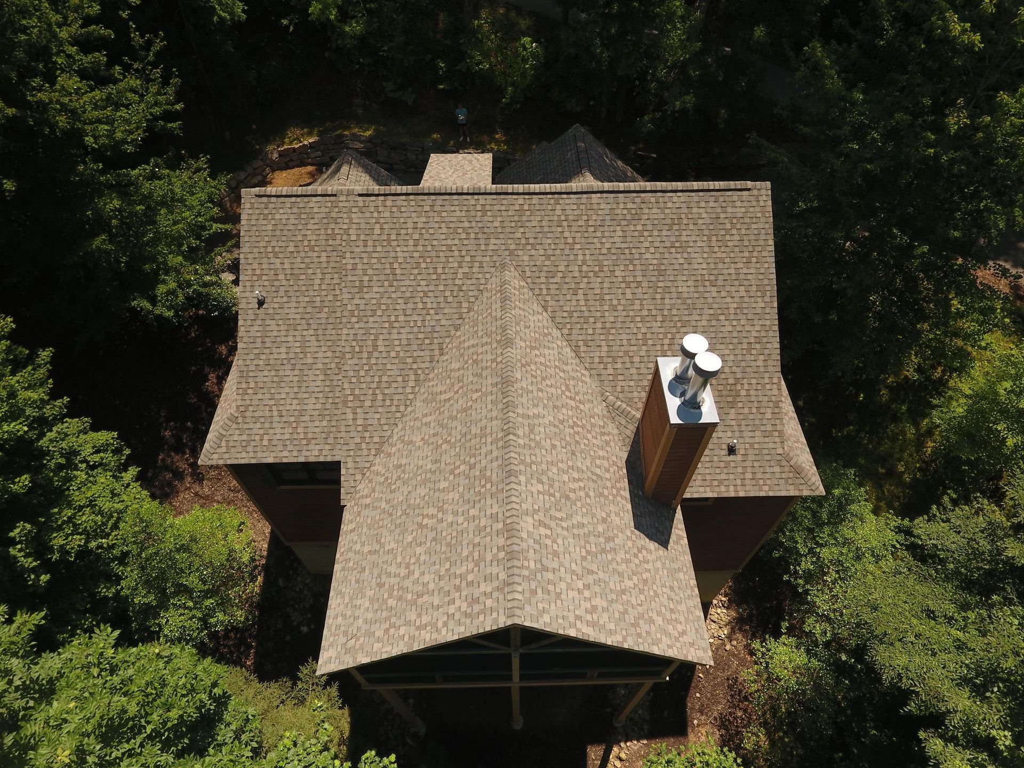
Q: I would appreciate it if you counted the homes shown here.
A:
1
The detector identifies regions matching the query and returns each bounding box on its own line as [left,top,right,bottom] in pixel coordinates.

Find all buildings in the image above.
[197,125,827,736]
